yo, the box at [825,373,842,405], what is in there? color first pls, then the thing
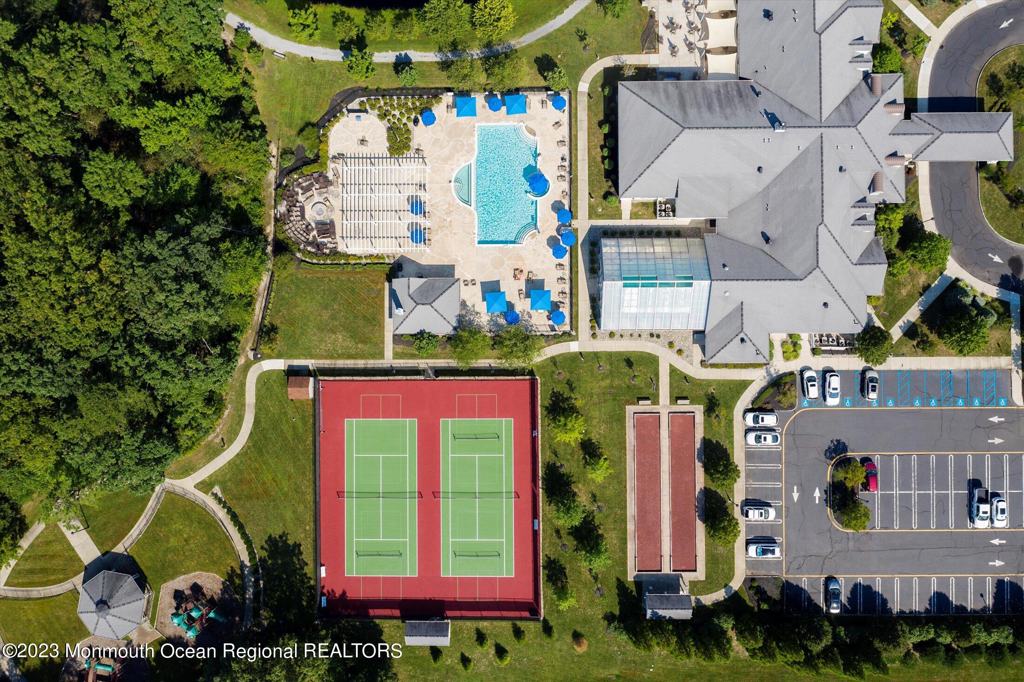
white car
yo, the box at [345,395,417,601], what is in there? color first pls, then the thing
green tennis court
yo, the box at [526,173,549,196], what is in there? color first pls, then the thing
blue umbrella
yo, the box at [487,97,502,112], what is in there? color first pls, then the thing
blue umbrella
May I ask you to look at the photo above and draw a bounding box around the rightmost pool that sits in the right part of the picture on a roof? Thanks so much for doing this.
[624,276,691,288]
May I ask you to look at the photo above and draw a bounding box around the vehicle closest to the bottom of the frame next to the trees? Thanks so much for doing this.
[826,578,843,611]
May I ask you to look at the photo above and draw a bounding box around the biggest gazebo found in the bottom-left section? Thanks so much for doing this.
[77,566,154,641]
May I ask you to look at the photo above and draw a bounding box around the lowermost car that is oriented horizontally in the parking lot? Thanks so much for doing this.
[748,544,781,560]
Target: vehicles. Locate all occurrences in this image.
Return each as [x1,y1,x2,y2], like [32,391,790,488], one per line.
[863,462,881,492]
[972,487,993,528]
[746,431,780,447]
[744,412,778,428]
[863,371,881,400]
[743,506,775,522]
[990,497,1008,528]
[748,544,781,560]
[803,370,820,400]
[826,578,843,611]
[825,373,842,405]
